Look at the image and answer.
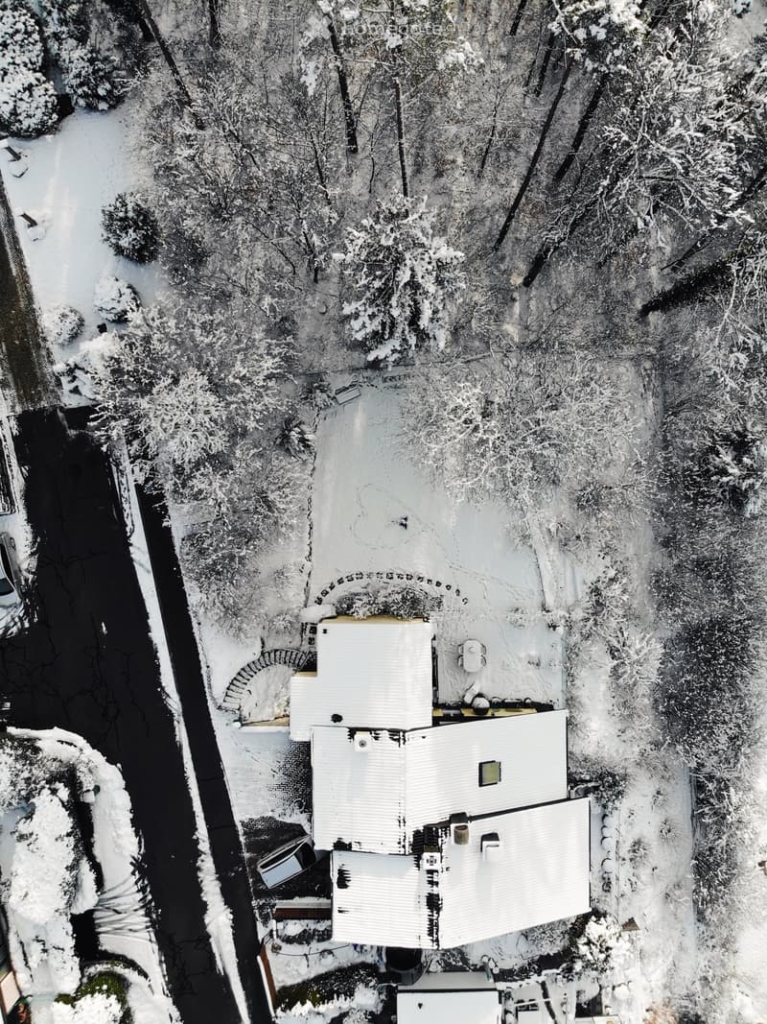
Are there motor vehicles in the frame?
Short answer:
Yes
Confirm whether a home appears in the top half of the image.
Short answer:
No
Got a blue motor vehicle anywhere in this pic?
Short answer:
No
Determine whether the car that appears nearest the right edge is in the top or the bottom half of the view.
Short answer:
bottom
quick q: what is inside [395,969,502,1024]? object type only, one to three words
building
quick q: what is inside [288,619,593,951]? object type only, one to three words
house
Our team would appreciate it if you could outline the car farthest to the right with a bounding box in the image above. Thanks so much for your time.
[256,834,318,884]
